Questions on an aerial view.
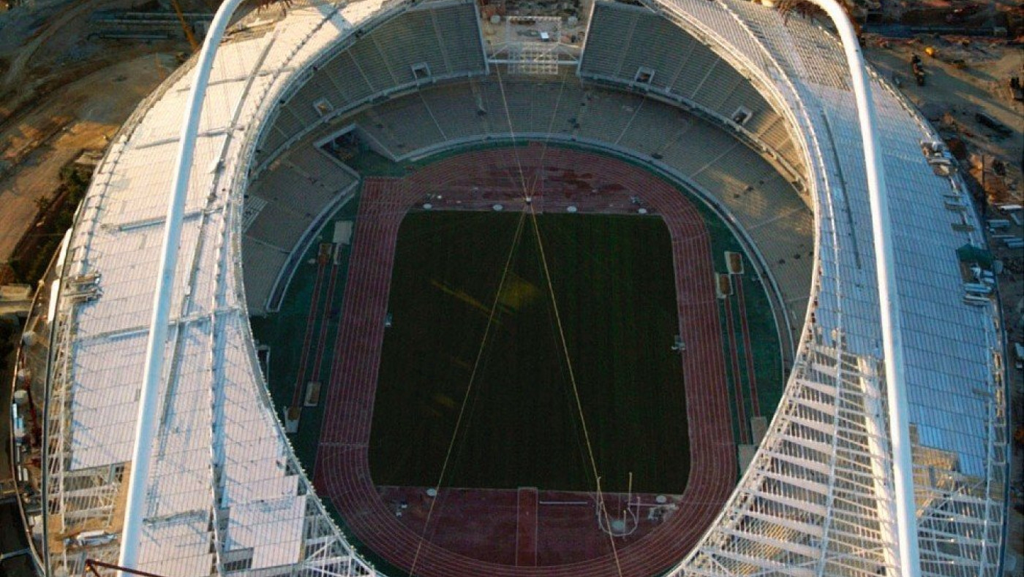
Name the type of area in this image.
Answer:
sports ground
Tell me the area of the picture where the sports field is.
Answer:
center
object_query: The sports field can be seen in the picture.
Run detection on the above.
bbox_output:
[368,210,690,490]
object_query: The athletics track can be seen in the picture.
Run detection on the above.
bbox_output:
[313,146,736,577]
